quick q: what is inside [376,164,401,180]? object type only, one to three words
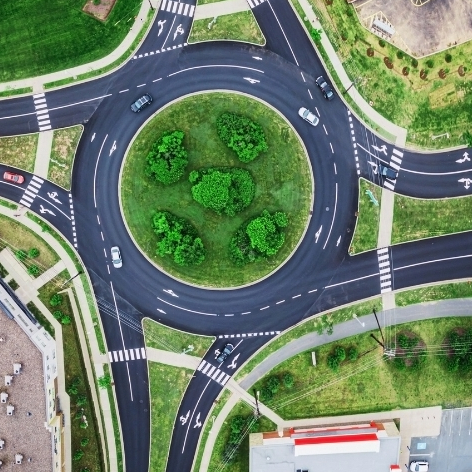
vehicle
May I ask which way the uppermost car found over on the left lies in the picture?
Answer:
on a diagonal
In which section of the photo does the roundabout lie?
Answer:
center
